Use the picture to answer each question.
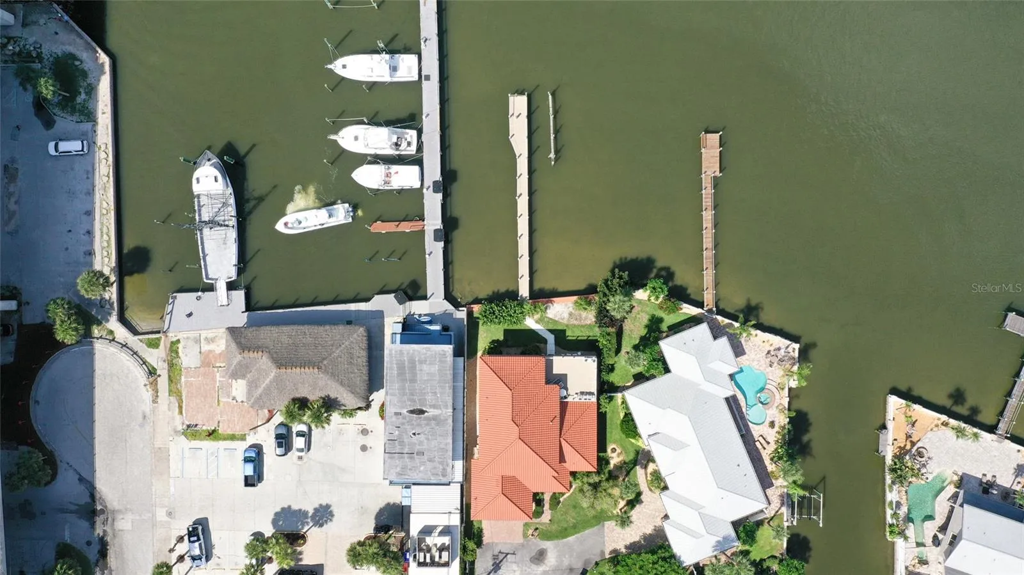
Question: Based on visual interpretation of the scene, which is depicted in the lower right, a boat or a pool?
pool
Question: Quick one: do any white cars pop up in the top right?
No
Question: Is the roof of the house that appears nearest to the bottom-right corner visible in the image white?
Yes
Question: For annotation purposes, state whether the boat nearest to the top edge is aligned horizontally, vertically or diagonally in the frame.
horizontally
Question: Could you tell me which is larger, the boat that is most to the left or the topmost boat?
the boat that is most to the left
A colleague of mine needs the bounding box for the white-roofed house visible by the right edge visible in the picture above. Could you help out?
[929,486,1024,575]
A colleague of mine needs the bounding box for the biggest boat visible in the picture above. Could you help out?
[160,147,238,283]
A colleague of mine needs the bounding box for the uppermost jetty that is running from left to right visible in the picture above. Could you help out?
[367,219,425,234]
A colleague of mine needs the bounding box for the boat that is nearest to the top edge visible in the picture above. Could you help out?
[324,38,420,82]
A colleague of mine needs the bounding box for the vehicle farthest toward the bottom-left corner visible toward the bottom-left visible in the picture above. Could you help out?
[187,523,209,566]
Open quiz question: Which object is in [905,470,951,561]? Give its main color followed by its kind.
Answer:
green swimming pool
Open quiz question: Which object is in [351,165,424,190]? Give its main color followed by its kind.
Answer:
white boat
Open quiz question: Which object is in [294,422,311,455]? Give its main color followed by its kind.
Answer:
white car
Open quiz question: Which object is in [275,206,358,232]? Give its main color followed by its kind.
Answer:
white boat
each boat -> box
[351,165,424,190]
[323,120,419,158]
[160,147,238,283]
[324,38,420,82]
[275,206,358,232]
